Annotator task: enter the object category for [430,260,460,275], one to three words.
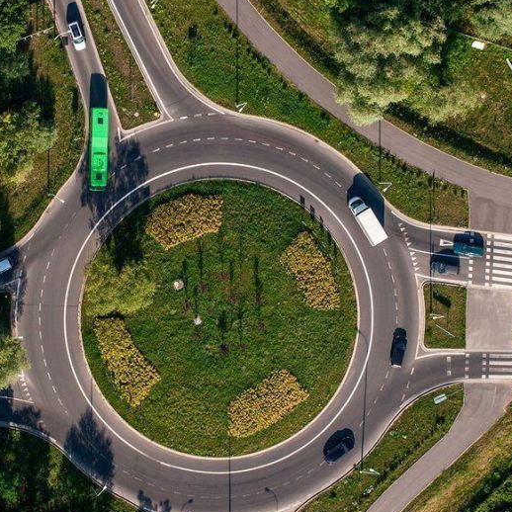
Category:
car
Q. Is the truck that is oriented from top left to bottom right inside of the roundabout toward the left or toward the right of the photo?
right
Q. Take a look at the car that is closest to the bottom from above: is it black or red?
black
